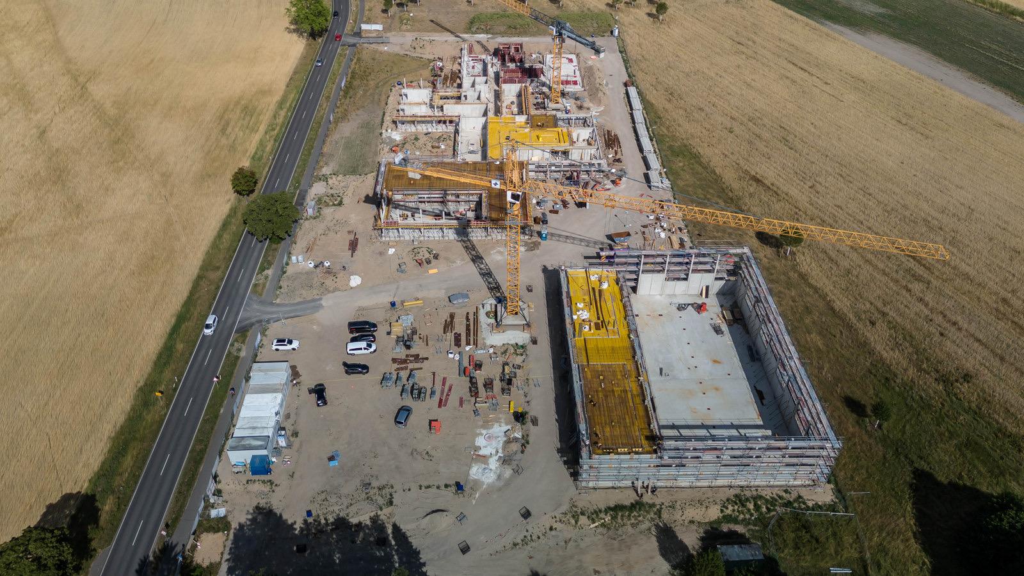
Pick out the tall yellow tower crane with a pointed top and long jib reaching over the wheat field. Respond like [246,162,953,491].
[392,138,942,324]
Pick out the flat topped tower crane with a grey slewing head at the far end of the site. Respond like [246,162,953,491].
[501,0,601,104]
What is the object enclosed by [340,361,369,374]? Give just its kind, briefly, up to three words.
vehicle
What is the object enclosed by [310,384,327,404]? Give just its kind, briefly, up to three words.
car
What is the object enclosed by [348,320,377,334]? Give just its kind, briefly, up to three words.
vehicle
